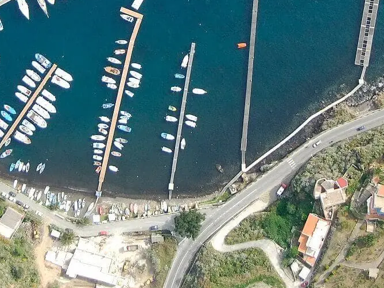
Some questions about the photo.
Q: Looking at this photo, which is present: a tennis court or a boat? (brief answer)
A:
boat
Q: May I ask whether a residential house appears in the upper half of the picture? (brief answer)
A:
No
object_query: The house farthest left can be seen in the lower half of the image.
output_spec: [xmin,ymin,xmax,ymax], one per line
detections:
[0,205,26,238]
